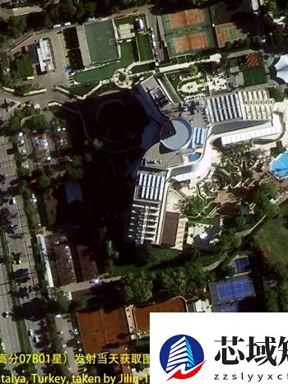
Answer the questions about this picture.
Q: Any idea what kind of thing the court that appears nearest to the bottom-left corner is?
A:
tennis court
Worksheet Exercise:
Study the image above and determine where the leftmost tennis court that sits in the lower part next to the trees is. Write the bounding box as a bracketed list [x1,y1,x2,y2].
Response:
[76,305,132,354]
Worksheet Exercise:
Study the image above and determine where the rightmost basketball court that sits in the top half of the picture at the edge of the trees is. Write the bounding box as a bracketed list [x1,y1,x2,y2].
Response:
[215,22,247,48]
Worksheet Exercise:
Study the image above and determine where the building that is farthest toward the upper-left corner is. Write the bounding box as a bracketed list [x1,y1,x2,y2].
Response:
[37,39,52,74]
